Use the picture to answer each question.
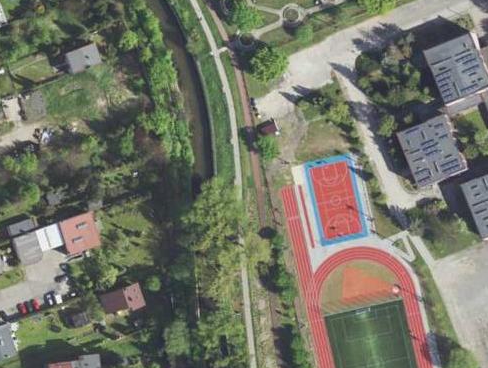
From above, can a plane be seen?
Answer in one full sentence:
No, no plane is visible in the scene.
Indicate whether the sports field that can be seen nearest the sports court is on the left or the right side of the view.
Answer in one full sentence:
The sports field that can be seen nearest the sports court appears in the right half of the scene.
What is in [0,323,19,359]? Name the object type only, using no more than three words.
house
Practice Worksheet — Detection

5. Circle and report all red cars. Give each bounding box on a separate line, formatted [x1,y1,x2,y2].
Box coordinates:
[18,302,25,314]
[32,298,39,310]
